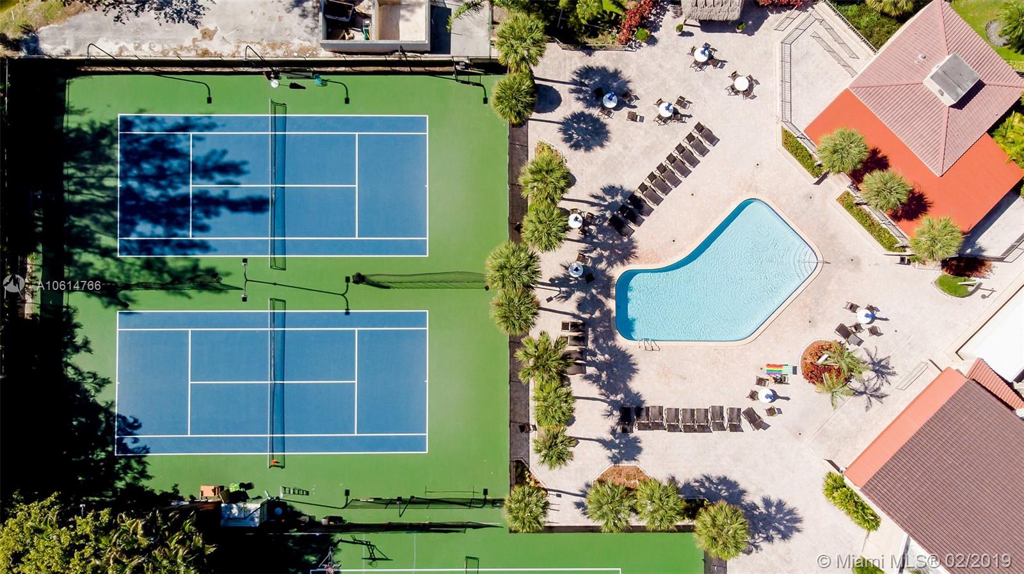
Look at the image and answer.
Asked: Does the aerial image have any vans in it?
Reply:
No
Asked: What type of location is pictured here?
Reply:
sports ground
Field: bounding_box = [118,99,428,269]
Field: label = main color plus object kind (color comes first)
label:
blue tennis court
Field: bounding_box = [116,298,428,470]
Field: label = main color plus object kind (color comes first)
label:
blue tennis court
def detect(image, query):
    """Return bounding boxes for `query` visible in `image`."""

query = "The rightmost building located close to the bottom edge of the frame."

[842,367,1024,574]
